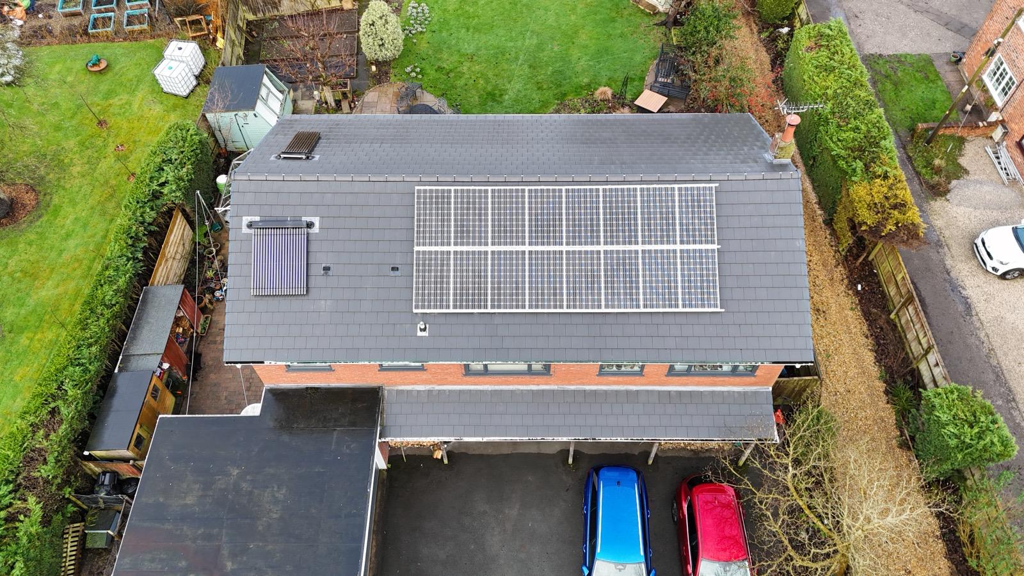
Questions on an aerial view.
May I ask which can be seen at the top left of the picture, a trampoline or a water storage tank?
water storage tank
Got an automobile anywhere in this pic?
Yes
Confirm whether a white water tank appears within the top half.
Yes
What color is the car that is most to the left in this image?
blue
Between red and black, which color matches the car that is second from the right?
red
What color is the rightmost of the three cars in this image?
white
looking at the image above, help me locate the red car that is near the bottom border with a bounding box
[673,477,759,576]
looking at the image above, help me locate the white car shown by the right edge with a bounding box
[972,207,1024,279]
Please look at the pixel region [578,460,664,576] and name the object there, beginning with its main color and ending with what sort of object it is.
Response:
blue car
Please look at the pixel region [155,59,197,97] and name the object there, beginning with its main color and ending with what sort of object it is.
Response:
white water tank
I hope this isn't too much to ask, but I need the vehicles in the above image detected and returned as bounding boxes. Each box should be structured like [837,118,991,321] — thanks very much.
[972,207,1024,279]
[578,460,664,576]
[673,477,759,576]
